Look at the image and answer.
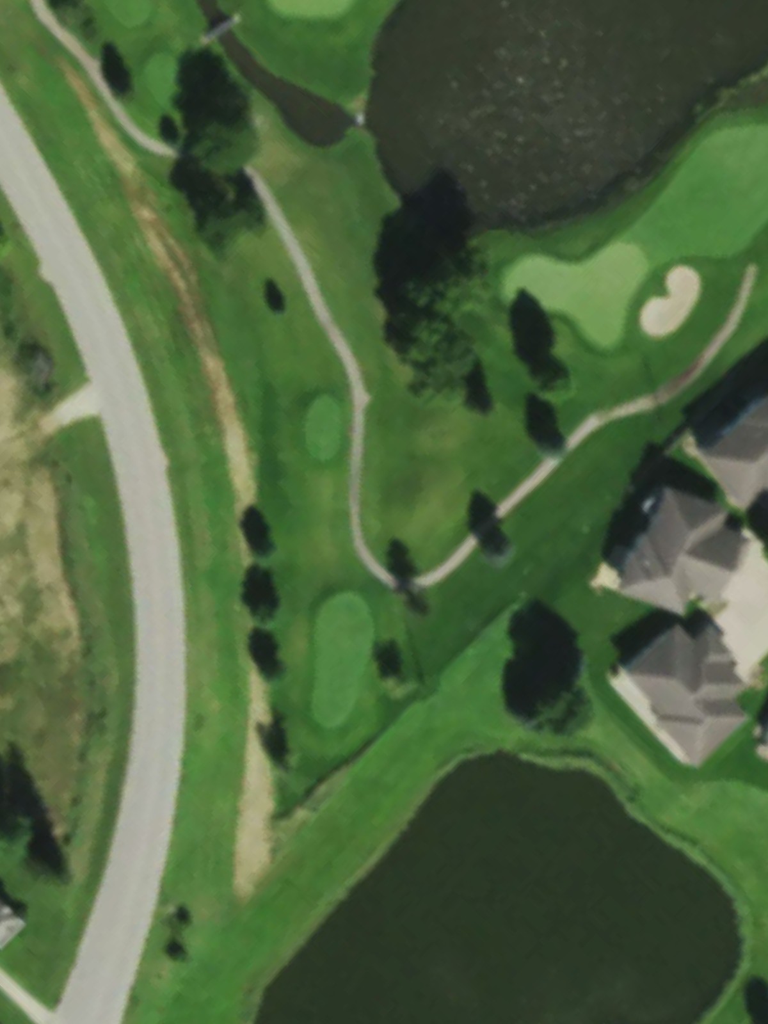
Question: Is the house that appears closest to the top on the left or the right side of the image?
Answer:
right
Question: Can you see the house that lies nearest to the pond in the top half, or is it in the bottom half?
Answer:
bottom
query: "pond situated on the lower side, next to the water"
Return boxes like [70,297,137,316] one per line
[254,750,741,1024]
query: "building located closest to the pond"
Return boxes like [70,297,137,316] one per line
[627,623,747,766]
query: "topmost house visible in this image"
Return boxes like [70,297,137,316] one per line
[702,401,768,510]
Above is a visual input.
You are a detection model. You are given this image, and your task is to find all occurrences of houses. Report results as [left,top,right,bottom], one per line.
[702,401,768,510]
[627,623,747,766]
[0,897,25,948]
[620,488,746,614]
